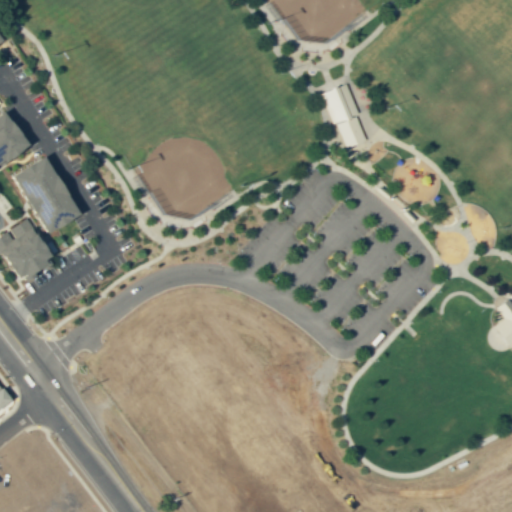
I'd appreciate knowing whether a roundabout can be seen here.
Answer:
No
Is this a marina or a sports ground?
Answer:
sports ground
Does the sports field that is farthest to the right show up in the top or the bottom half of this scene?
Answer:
top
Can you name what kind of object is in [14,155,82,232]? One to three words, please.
building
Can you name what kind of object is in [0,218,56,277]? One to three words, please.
building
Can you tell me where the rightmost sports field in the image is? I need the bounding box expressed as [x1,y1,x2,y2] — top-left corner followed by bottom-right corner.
[349,0,512,255]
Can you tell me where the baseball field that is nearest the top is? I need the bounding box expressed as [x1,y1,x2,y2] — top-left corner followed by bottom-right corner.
[270,0,381,42]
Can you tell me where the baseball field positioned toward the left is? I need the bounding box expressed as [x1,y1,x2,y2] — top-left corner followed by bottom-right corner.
[18,0,328,218]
